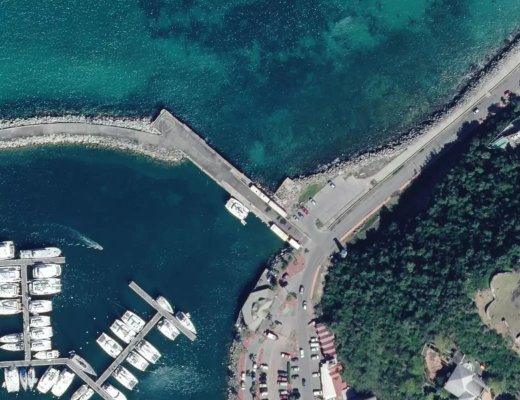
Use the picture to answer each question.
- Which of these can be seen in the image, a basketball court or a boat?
boat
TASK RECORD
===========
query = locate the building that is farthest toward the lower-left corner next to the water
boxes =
[241,288,276,331]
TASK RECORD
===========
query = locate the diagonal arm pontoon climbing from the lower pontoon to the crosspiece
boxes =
[95,312,163,386]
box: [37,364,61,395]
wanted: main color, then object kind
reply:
white boat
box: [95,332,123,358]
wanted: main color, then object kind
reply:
white boat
